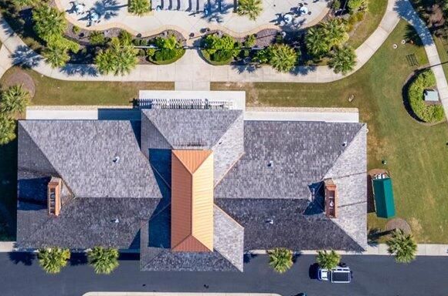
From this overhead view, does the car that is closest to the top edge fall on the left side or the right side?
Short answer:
right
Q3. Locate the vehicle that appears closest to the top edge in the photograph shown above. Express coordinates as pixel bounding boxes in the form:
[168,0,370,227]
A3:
[318,265,353,284]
